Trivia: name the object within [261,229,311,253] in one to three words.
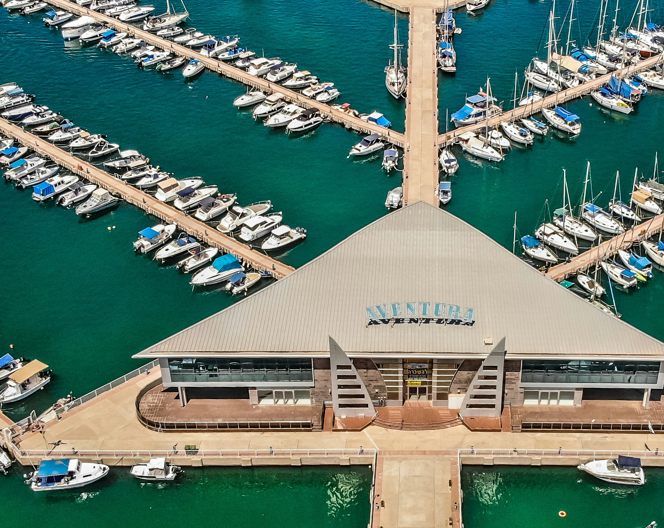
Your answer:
boat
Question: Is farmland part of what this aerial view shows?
No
